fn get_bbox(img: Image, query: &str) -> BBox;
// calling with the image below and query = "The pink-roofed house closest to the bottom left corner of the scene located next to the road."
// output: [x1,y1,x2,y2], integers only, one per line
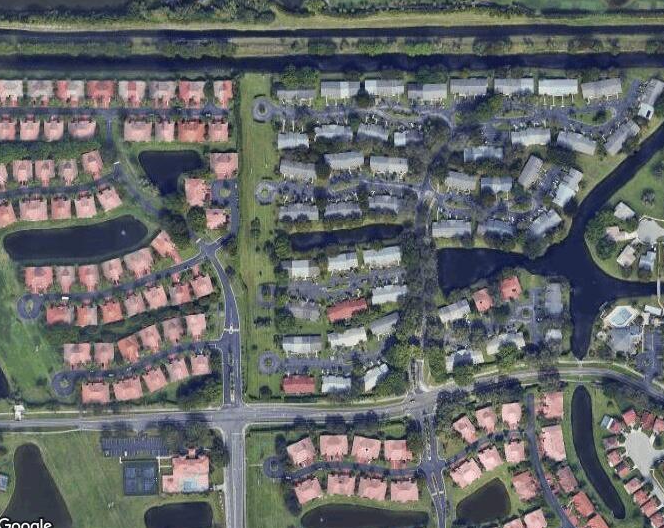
[82,380,109,404]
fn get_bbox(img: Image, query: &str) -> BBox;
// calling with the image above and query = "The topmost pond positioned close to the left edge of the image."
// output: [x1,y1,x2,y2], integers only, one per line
[4,215,147,263]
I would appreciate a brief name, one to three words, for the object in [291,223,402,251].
pond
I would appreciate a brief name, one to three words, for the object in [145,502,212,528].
pond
